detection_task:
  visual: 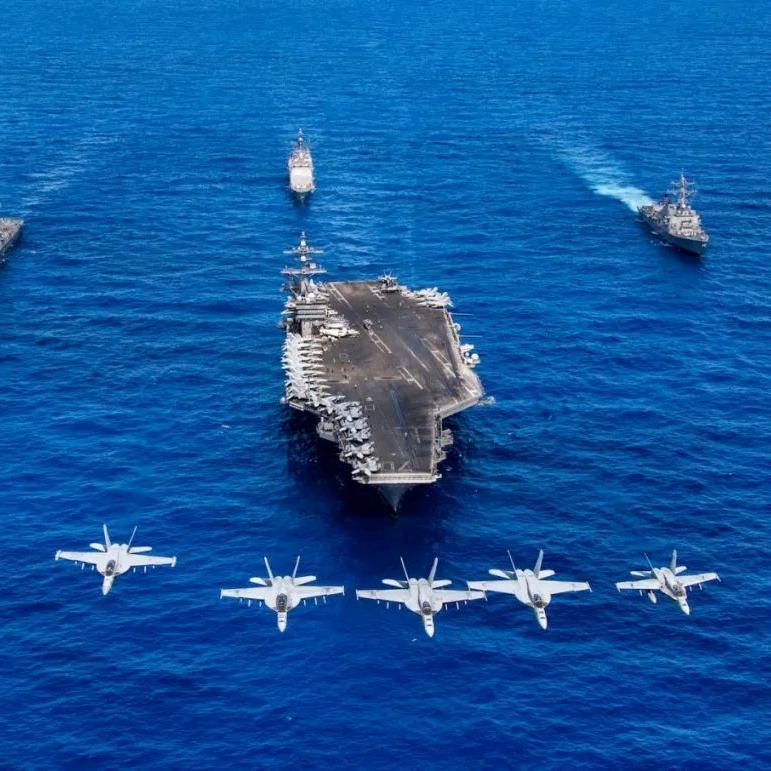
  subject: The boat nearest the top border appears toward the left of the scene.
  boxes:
[285,131,316,207]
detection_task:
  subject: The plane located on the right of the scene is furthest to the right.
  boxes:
[615,547,721,616]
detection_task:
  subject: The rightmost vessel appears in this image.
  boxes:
[644,166,710,258]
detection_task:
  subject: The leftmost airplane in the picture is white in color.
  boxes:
[56,521,175,595]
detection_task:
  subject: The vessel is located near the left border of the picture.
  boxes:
[0,218,23,256]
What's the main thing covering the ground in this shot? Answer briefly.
water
